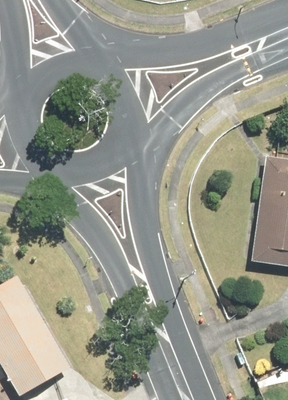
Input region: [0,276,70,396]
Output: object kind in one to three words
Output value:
house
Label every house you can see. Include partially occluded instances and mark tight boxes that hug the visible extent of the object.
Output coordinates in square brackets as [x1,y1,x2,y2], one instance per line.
[0,276,70,396]
[252,156,288,266]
